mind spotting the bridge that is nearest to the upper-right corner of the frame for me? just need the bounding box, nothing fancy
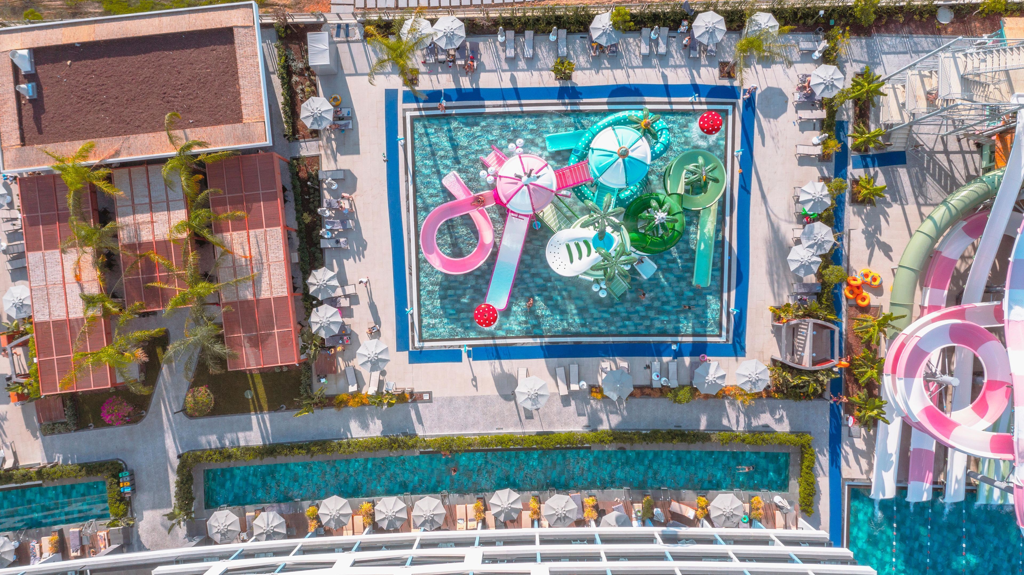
[554,161,593,190]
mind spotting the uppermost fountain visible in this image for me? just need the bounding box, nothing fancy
[695,111,723,136]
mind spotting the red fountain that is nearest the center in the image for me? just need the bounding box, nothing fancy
[474,303,498,327]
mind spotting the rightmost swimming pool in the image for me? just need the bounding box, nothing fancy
[850,488,1024,575]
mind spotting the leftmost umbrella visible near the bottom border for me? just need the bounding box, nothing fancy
[0,531,31,565]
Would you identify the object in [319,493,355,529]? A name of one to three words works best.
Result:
umbrella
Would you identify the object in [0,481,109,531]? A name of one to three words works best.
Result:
swimming pool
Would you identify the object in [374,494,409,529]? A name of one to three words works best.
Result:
umbrella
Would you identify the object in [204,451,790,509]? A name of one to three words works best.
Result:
swimming pool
